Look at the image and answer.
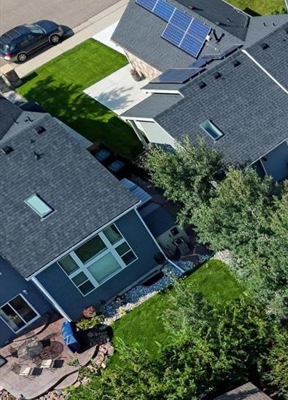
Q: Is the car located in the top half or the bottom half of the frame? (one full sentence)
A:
Seen from above, the car lies in the top half of the view.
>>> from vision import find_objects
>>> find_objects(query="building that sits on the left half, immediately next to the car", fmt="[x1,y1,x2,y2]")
[0,93,190,349]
